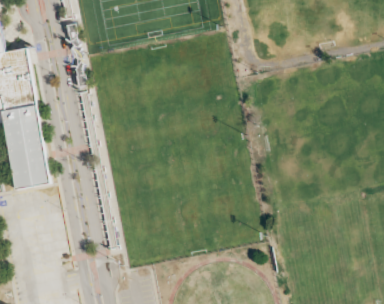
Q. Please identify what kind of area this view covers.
sports ground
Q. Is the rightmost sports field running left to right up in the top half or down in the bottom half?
top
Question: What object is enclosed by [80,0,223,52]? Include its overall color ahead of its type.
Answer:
green sports field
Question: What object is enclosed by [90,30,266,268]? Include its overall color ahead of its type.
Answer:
green sports field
